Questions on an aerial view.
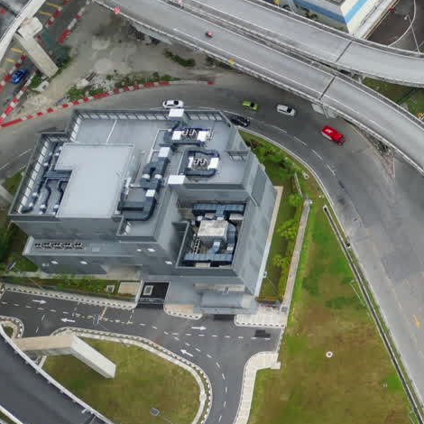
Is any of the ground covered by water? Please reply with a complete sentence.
No, there is no water in the image.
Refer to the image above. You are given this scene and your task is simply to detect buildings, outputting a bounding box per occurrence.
[276,0,399,39]
[5,106,281,319]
